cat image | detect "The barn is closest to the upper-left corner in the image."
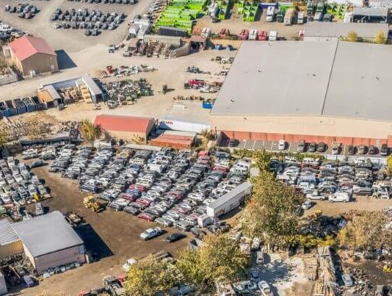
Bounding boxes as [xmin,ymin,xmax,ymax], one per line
[7,34,58,75]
